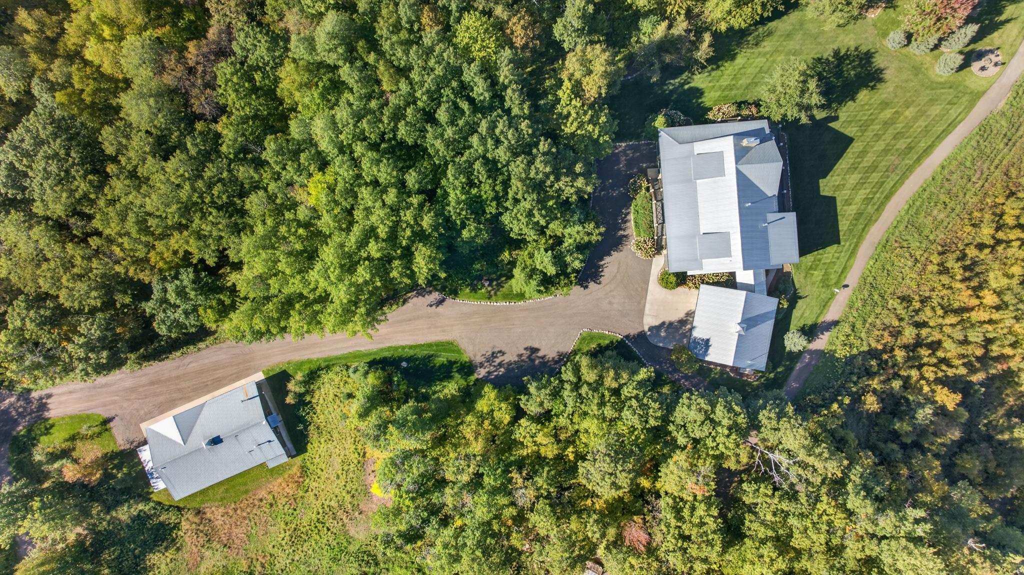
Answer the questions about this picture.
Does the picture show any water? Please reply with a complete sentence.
No, there is no water in the image.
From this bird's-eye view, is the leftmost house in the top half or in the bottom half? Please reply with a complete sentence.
The leftmost house sits in the bottom half of the picture.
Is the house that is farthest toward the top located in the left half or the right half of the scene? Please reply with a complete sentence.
You can find the house that is farthest toward the top on the right side of the picture.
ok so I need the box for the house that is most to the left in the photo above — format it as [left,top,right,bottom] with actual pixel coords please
[146,381,289,501]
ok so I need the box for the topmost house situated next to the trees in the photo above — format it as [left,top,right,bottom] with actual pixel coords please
[654,120,800,275]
